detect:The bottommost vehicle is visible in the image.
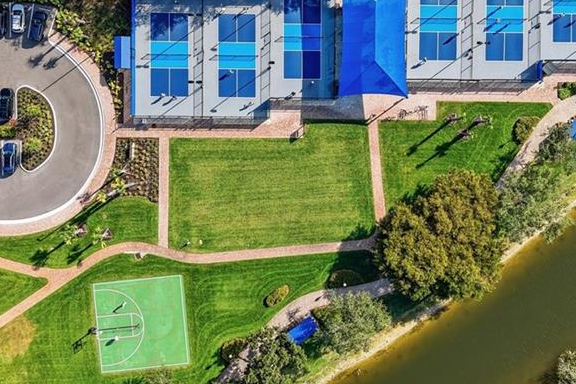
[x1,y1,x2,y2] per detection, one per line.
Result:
[2,142,18,173]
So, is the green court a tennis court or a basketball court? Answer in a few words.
basketball court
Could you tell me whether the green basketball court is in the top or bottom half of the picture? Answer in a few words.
bottom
